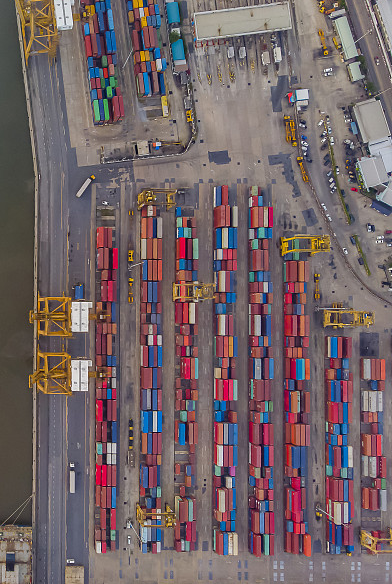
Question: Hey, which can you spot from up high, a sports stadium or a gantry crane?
gantry crane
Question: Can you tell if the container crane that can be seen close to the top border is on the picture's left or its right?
left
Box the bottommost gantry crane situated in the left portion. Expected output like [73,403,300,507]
[130,495,177,522]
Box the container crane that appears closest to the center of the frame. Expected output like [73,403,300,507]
[166,283,215,300]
